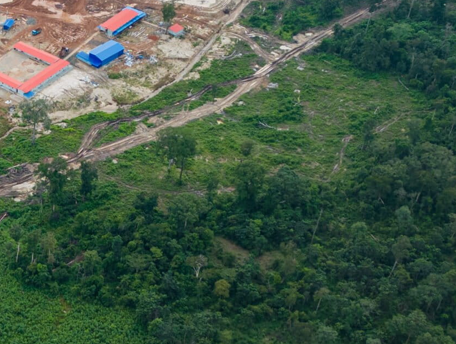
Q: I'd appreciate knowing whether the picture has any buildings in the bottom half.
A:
No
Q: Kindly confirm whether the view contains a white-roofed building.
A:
No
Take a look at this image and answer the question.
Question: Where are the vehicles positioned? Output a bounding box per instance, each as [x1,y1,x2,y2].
[59,46,70,57]
[26,27,43,36]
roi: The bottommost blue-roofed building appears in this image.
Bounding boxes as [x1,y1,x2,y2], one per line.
[77,41,124,68]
